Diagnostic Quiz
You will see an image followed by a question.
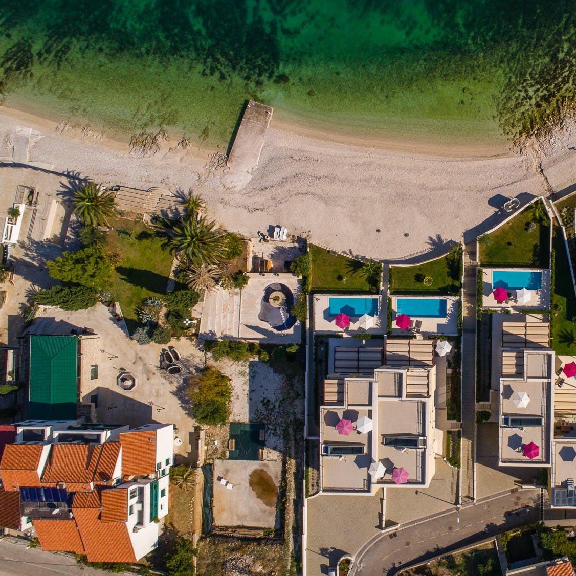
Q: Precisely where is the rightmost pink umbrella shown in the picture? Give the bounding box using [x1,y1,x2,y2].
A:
[563,360,576,379]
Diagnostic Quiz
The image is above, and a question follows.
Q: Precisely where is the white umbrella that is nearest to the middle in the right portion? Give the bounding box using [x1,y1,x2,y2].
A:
[358,313,373,329]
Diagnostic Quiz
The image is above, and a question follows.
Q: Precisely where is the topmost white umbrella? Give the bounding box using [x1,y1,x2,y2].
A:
[516,287,530,305]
